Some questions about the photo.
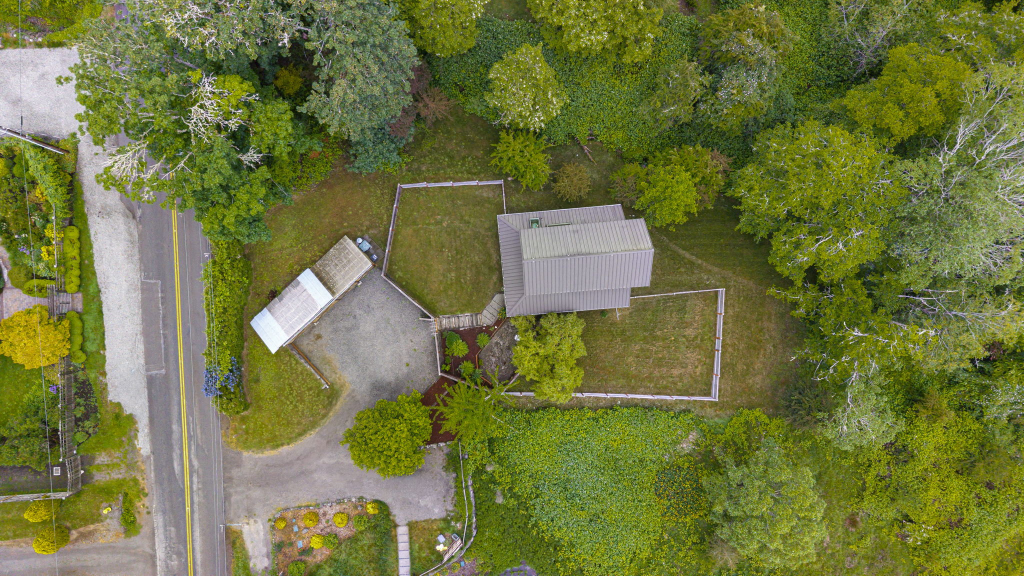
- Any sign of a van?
No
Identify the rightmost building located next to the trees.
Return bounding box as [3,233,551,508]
[496,203,654,318]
